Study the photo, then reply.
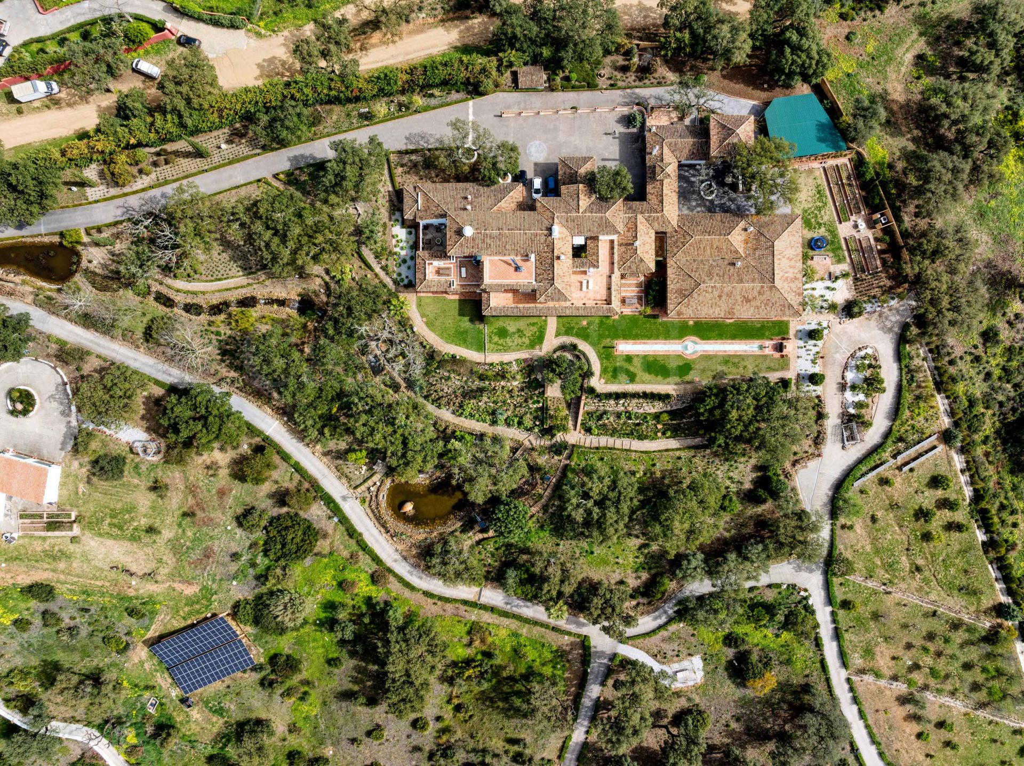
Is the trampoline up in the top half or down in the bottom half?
top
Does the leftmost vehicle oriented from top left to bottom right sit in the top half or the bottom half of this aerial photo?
top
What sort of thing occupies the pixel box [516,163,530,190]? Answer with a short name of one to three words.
car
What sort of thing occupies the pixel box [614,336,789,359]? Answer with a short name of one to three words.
fountain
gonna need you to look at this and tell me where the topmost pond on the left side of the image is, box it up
[0,242,82,283]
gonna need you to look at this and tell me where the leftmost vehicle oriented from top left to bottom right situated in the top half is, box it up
[128,54,159,79]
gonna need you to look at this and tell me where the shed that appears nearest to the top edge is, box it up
[518,65,543,92]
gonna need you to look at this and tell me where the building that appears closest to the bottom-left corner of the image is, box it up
[0,450,60,521]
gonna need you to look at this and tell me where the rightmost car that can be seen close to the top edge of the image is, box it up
[173,30,203,49]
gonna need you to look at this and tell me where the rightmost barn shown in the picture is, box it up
[760,93,847,158]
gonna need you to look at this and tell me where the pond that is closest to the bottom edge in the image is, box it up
[387,481,465,523]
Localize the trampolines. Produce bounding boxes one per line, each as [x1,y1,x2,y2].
[811,231,834,251]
